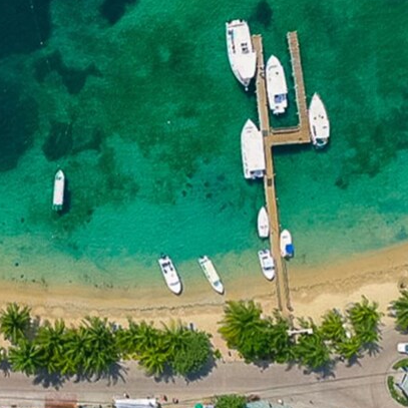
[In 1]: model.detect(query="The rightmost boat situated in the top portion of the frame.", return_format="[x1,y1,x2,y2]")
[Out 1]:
[302,92,331,152]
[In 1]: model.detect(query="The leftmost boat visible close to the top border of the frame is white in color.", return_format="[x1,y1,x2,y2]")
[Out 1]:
[224,18,258,88]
